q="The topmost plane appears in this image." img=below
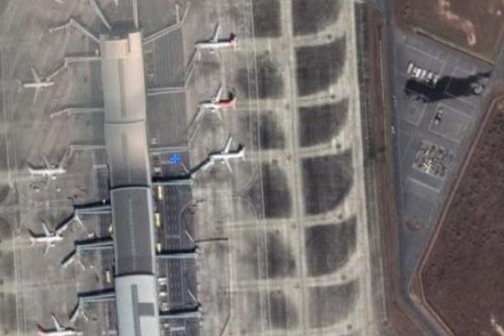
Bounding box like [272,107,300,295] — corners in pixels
[196,24,236,60]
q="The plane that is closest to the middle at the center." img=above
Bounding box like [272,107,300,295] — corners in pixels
[210,136,245,172]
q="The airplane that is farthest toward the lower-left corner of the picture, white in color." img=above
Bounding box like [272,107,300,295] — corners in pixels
[37,316,77,336]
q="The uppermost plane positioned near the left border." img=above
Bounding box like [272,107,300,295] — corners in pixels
[20,69,55,100]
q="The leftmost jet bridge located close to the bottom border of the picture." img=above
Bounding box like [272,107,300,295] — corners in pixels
[69,292,116,322]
